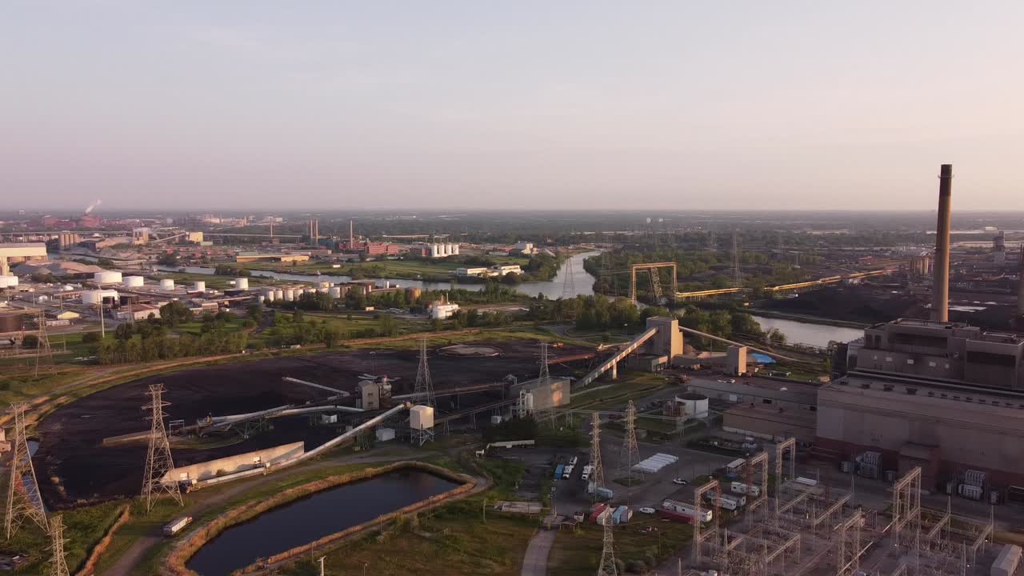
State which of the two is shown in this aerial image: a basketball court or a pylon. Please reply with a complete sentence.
This aerial view contains a pylon.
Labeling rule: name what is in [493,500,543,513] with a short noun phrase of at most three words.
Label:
building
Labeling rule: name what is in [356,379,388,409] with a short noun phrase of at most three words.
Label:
house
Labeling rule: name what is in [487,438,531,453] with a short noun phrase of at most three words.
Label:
vehicle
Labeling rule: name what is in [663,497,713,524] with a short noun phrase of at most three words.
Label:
trailer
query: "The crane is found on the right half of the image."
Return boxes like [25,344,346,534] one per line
[605,260,679,304]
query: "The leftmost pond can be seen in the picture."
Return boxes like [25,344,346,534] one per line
[183,468,462,576]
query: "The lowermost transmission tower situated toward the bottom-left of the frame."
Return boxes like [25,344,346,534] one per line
[36,484,72,576]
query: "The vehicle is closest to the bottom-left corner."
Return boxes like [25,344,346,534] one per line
[161,517,195,538]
